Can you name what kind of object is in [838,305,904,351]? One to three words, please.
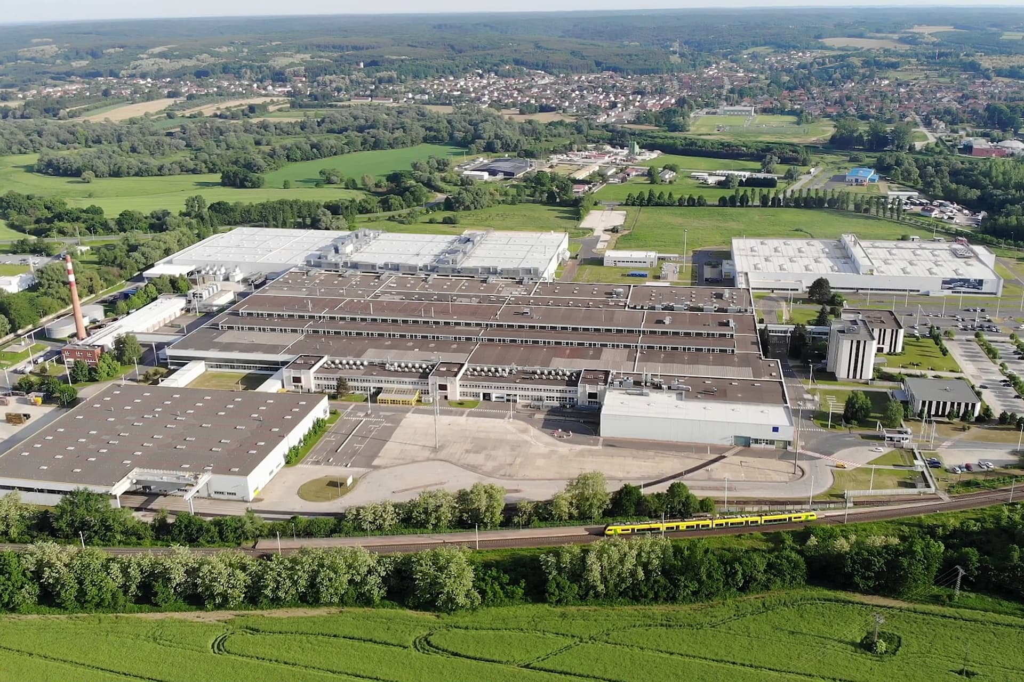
building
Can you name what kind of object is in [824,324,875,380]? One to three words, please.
building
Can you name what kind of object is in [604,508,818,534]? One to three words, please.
train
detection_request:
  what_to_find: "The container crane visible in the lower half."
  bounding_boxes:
[108,463,213,508]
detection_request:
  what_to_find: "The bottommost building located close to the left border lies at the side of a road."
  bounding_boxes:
[0,381,326,505]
